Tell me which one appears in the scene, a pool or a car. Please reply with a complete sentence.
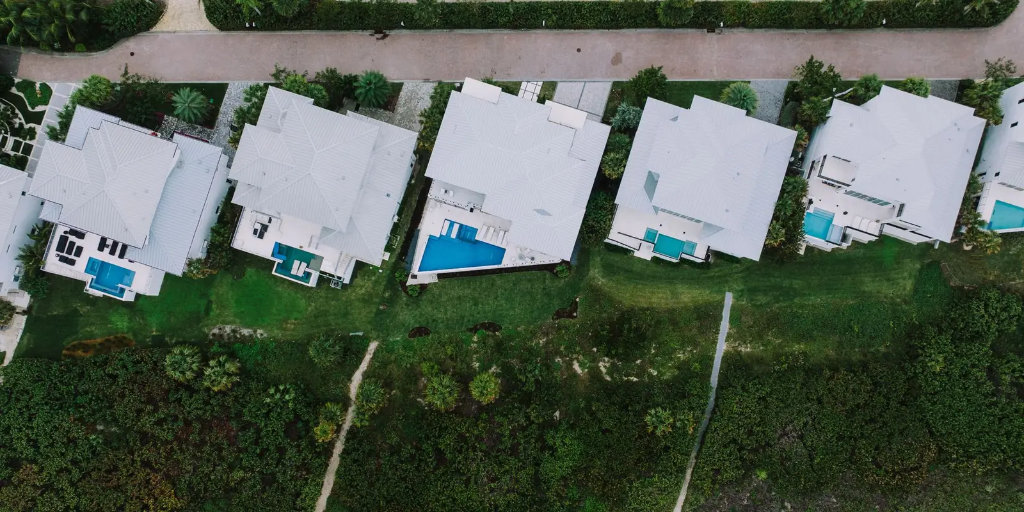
This aerial view contains a pool.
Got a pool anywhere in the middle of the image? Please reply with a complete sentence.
Yes, a pool can be seen in the middle of the image.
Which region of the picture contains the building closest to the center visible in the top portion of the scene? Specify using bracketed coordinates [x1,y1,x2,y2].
[424,77,610,262]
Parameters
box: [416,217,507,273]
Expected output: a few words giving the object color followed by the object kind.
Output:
blue swimming pool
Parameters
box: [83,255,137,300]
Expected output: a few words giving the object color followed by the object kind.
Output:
blue swimming pool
